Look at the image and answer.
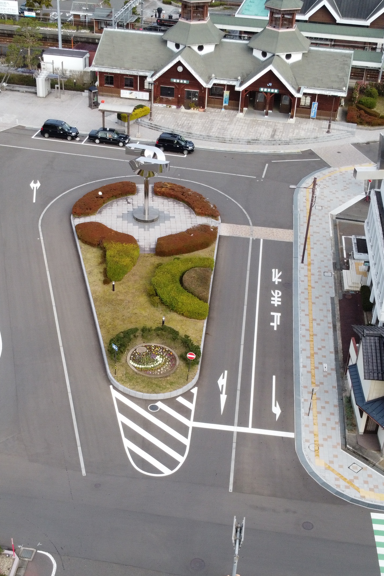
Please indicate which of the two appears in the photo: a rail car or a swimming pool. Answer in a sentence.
Looking from above, you can make out a rail car.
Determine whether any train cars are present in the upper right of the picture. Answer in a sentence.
No, no train car is visible in the upper right of the picture.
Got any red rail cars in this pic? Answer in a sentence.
No, the frame has no red rail car in it.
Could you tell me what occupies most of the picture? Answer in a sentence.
Most of the picture is covered by paved ground.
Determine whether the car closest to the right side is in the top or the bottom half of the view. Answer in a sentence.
The car closest to the right side sits in the top half of the picture.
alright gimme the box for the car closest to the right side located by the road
[155,129,197,152]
